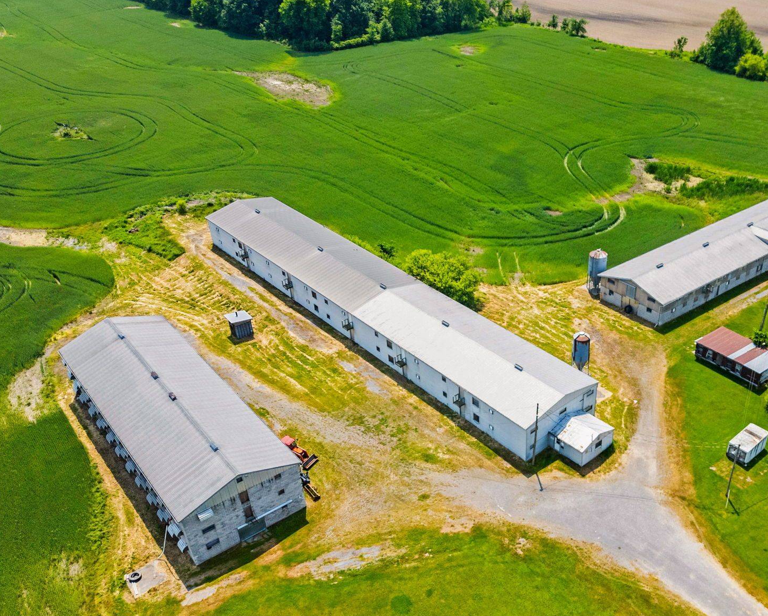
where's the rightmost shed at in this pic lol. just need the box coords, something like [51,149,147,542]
[695,323,768,387]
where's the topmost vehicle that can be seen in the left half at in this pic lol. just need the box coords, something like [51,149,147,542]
[281,434,322,470]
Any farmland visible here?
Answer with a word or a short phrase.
Yes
